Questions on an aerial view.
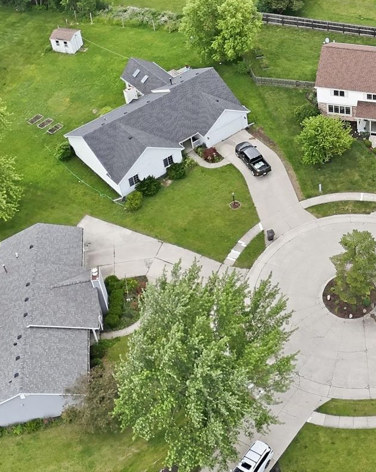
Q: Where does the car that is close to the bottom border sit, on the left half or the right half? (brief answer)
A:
right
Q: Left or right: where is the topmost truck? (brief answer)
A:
right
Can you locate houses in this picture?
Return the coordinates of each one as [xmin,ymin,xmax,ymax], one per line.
[64,58,255,203]
[314,36,376,134]
[0,221,114,425]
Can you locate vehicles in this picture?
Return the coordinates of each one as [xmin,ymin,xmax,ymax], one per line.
[232,438,274,472]
[234,141,270,177]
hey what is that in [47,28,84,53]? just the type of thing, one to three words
shed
